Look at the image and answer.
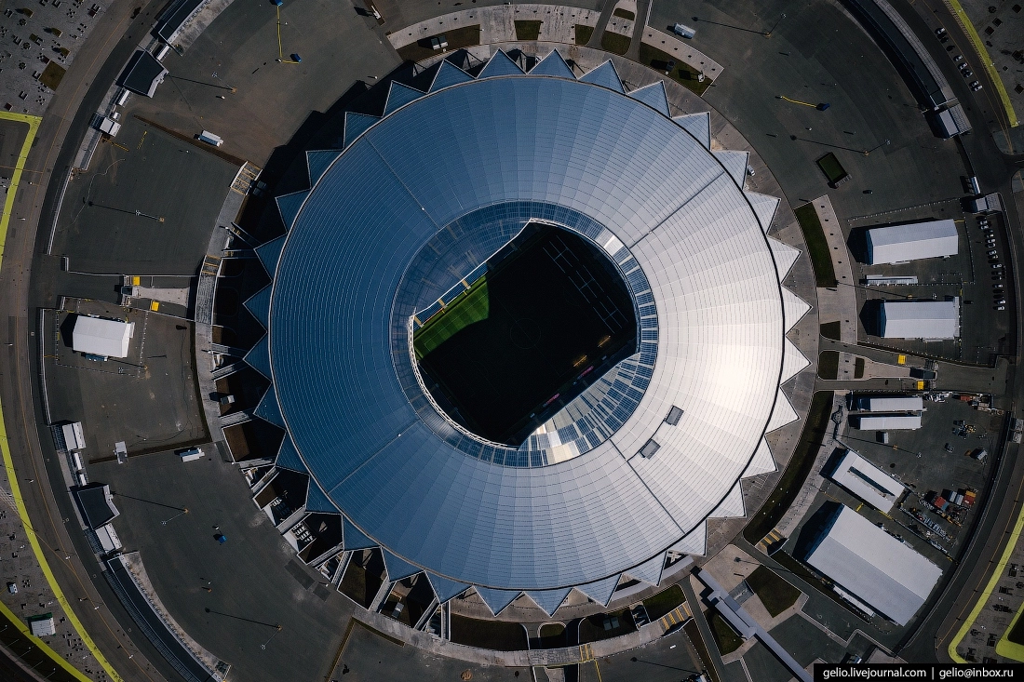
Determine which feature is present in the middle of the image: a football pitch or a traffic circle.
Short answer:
football pitch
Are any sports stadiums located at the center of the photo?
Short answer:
Yes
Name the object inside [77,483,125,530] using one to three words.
building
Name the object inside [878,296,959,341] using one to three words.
building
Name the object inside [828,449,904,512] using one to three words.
shed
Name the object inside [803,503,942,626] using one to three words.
shed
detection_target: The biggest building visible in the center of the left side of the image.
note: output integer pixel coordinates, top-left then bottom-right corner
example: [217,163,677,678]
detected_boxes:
[71,315,136,363]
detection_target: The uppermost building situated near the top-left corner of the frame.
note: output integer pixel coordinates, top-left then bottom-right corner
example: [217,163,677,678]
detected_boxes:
[149,0,215,46]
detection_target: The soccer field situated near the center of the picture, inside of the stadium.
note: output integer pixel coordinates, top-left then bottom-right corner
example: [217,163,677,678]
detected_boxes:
[413,223,639,442]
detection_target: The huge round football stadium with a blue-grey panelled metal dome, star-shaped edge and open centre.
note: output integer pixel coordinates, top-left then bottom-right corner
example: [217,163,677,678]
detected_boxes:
[241,48,810,618]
